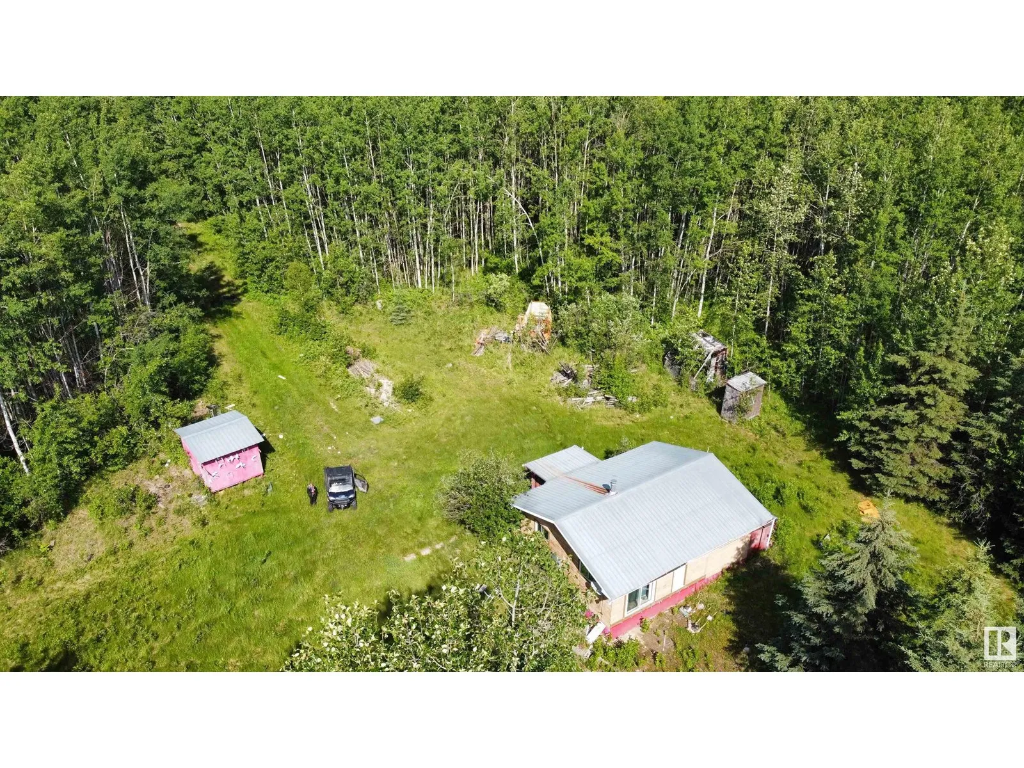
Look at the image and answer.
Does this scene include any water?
No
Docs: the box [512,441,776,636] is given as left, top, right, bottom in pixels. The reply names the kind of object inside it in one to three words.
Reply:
house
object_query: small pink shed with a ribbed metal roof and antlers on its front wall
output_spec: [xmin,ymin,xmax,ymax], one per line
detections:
[174,411,264,493]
